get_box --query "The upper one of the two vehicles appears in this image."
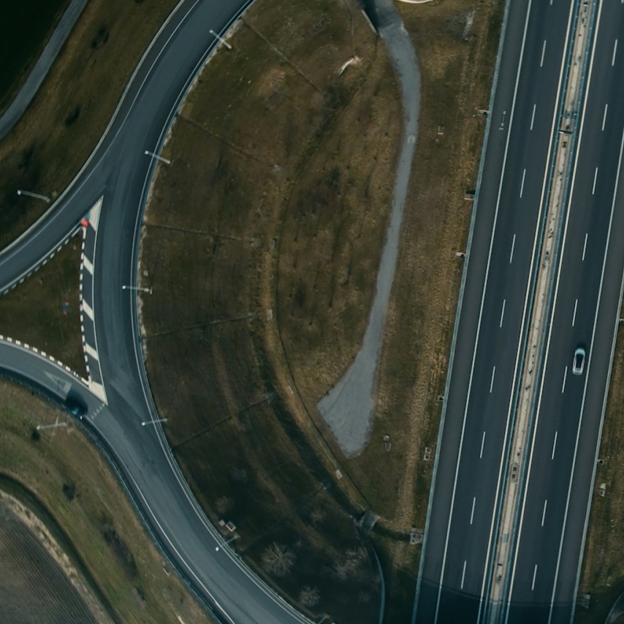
[574,347,586,375]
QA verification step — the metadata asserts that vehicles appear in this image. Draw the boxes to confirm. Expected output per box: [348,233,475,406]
[574,347,586,375]
[64,394,90,419]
